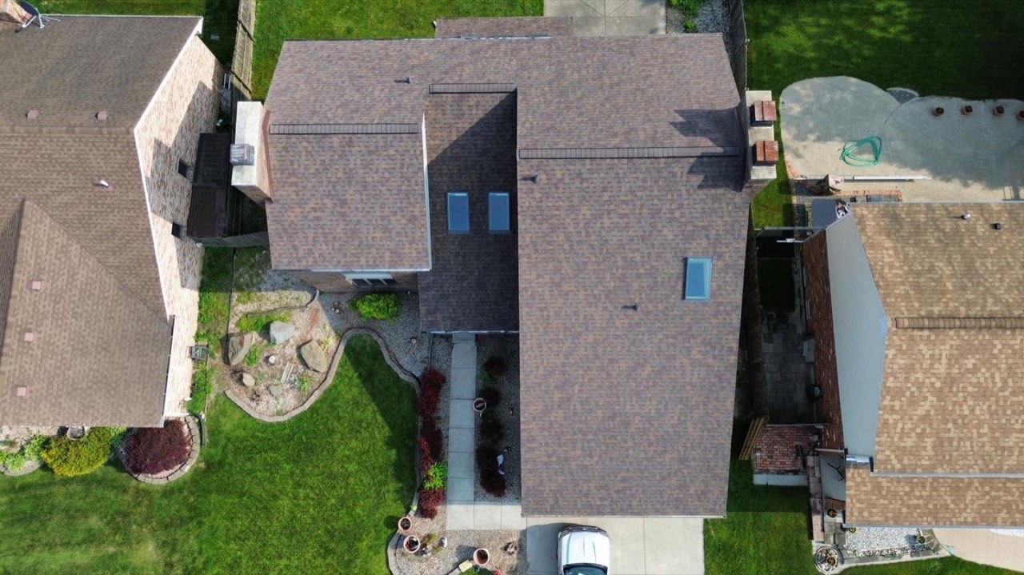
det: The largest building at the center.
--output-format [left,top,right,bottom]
[229,16,779,518]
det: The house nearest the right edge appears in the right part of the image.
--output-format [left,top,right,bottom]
[803,200,1024,528]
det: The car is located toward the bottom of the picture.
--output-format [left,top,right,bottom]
[554,522,617,575]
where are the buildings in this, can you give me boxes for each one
[803,200,1024,528]
[229,16,779,518]
[0,0,218,430]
